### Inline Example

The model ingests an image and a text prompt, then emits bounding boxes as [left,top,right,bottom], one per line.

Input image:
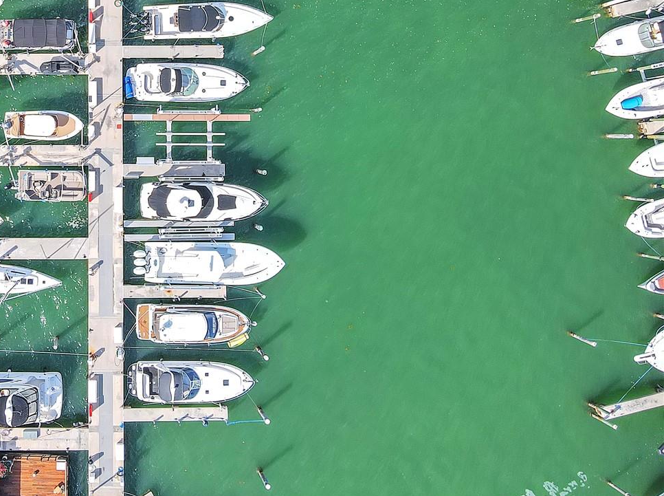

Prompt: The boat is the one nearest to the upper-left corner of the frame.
[0,18,76,49]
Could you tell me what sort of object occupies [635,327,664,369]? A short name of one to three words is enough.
boat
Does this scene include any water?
Yes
